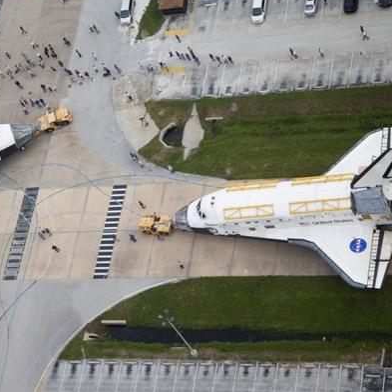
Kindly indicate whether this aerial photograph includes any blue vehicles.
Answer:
No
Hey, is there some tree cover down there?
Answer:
No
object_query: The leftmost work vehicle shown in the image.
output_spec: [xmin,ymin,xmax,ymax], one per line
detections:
[38,106,74,137]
